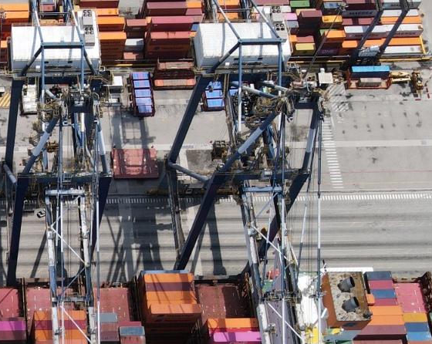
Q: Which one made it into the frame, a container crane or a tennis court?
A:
container crane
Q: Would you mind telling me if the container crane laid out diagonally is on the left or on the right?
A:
right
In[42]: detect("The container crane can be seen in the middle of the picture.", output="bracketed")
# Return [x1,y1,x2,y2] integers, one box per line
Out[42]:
[135,0,329,344]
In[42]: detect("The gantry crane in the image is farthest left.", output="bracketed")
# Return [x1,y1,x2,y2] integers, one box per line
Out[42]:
[0,0,120,344]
